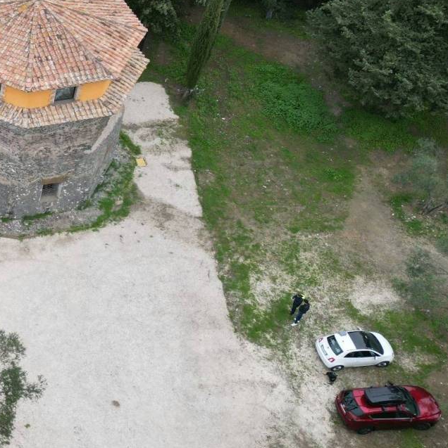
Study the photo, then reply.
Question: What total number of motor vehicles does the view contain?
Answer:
2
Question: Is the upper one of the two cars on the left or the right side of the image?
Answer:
right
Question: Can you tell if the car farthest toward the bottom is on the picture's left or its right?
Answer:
right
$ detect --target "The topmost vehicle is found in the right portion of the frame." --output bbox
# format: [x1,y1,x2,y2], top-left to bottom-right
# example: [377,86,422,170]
[315,322,397,371]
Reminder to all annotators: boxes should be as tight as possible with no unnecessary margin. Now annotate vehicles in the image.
[330,376,443,434]
[315,322,397,371]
